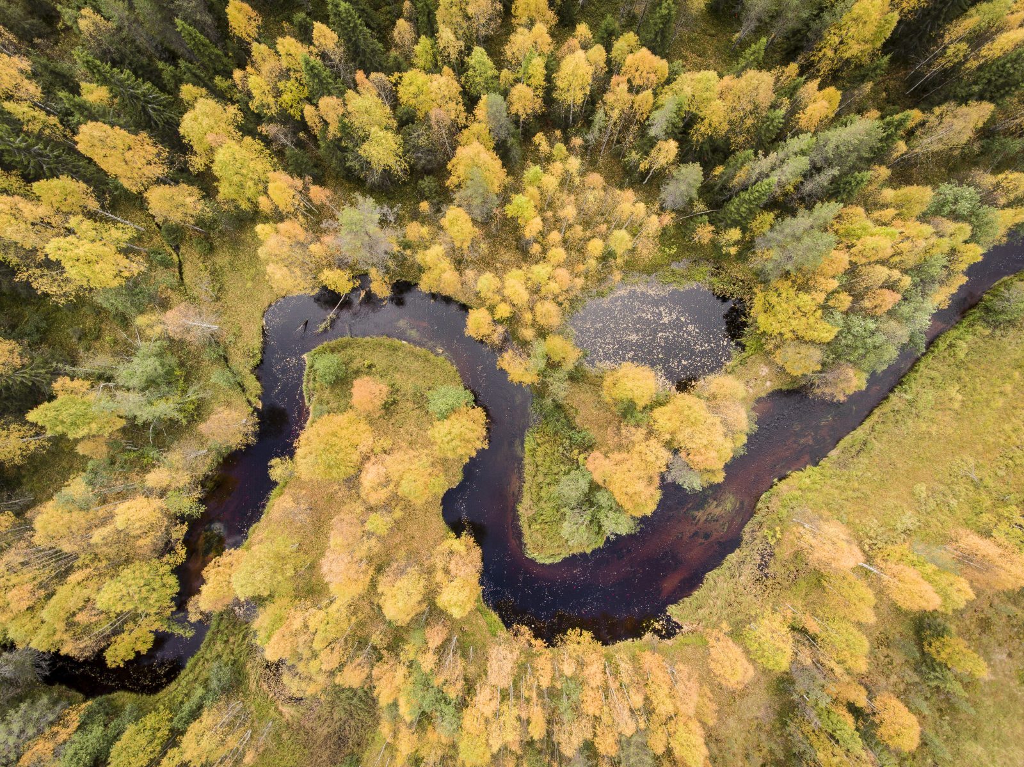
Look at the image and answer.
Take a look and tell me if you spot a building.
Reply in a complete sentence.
No, the frame has no building in it.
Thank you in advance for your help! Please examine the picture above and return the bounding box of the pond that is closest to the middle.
[564,274,752,392]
